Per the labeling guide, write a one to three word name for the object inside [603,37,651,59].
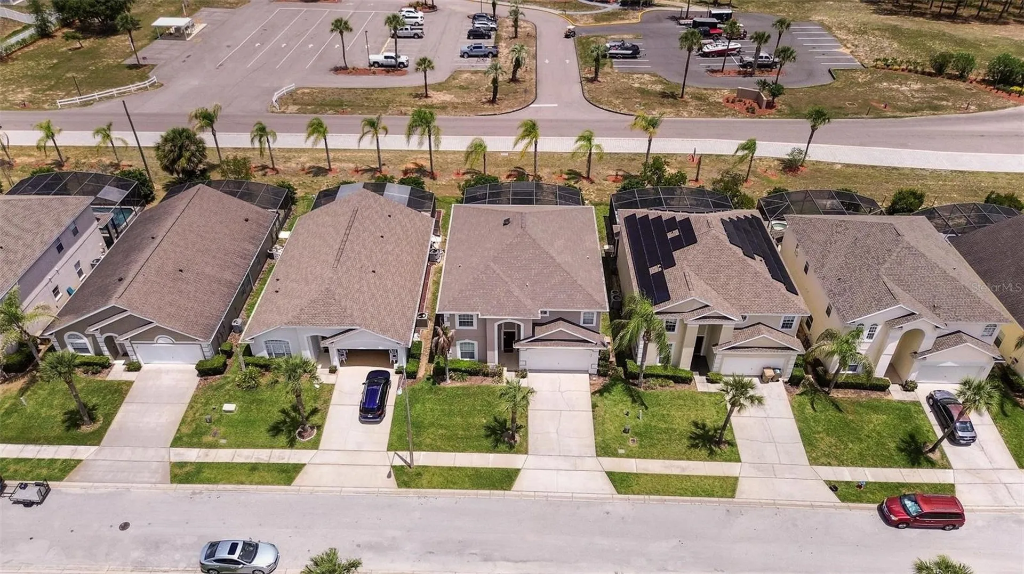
boat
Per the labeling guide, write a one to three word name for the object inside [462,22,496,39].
car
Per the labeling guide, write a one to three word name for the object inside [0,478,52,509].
trailer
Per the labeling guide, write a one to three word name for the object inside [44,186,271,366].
house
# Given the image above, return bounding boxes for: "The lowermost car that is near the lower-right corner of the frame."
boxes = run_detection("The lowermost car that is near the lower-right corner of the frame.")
[883,491,970,530]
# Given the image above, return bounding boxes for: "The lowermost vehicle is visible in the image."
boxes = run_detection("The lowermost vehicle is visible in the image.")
[195,538,278,574]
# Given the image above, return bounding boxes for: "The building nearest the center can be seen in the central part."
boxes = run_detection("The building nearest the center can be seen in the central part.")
[438,204,609,373]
